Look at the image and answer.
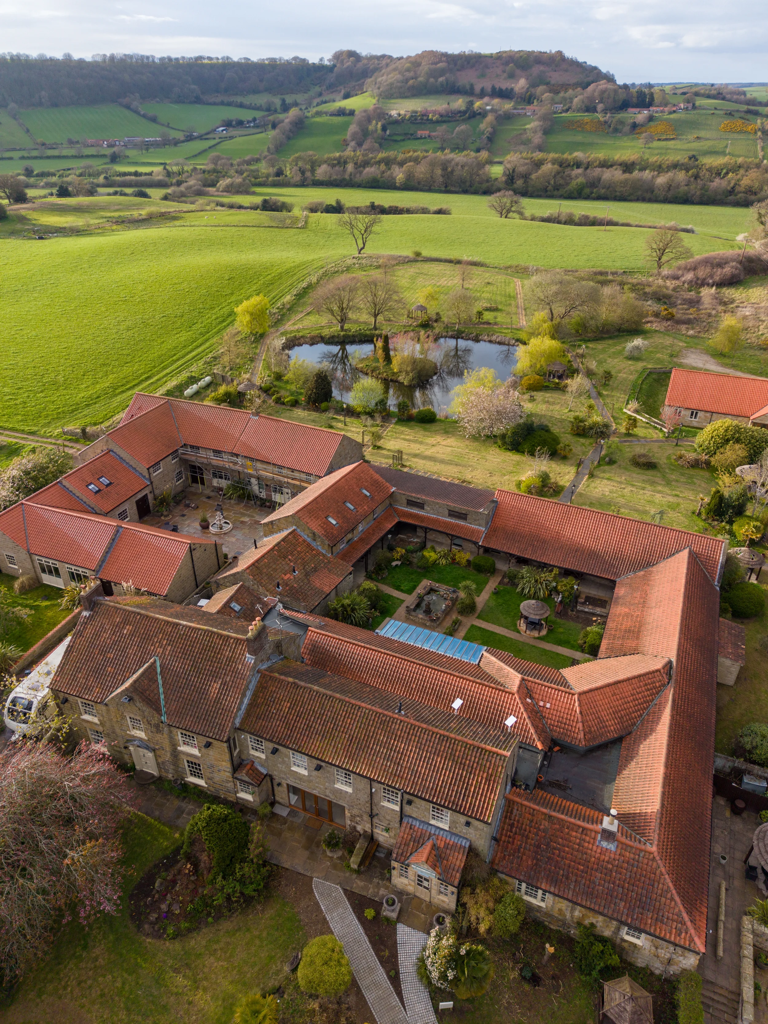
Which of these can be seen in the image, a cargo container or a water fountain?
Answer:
water fountain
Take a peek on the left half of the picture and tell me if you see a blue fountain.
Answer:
No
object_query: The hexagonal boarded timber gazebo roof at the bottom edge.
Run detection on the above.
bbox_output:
[591,970,664,1024]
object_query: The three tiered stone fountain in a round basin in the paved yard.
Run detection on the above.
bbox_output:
[205,509,236,537]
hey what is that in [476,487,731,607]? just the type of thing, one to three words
house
